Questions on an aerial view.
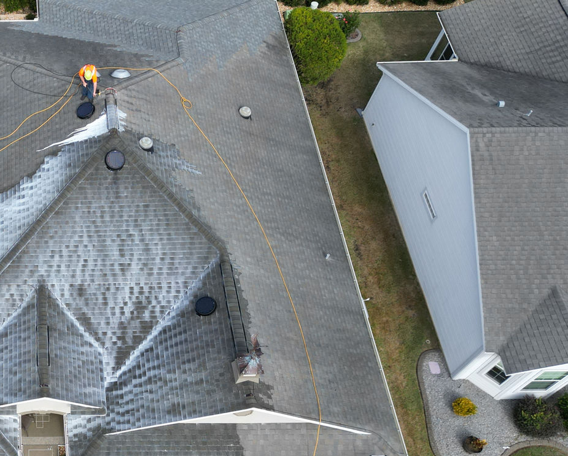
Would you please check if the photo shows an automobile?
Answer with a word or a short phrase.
No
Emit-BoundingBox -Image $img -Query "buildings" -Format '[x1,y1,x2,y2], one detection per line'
[357,0,568,398]
[0,0,409,456]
